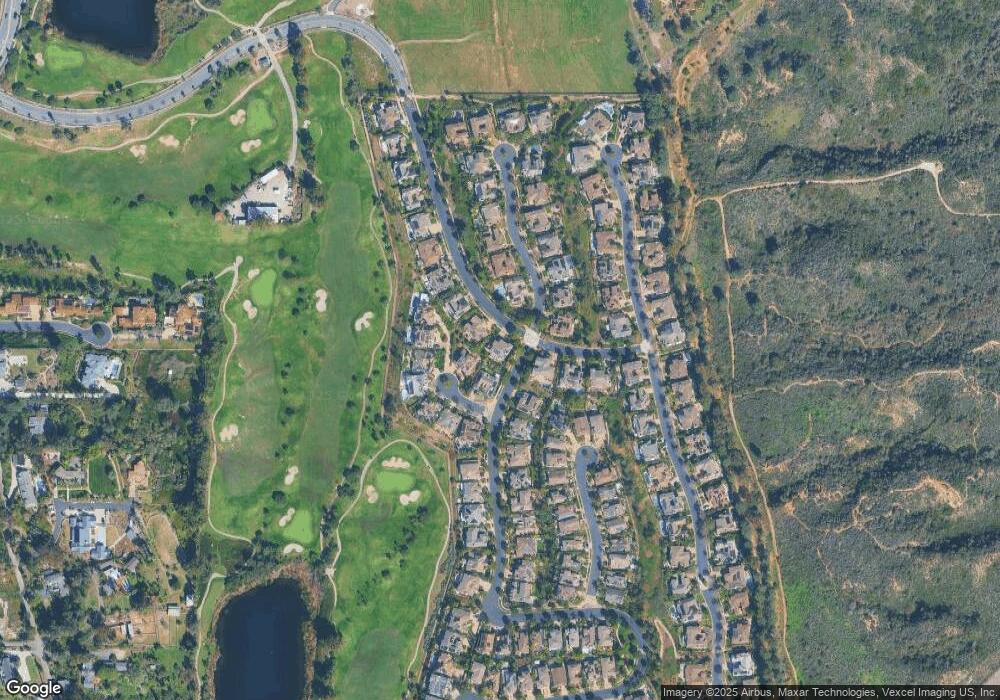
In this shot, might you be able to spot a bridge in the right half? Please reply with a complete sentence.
No, there's no bridge to be seen in the right half.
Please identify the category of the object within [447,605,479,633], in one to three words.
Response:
house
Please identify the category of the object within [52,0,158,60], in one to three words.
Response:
pond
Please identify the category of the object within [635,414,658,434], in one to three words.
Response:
house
